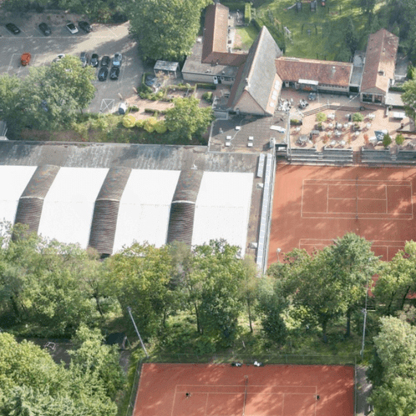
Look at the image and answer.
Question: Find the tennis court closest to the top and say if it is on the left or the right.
right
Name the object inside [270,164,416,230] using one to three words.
tennis court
